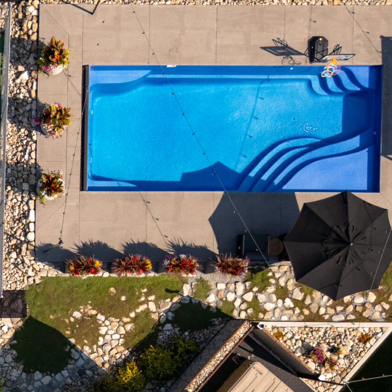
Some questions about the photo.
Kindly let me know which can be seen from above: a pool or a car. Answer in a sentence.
Looking from above, you can make out a pool.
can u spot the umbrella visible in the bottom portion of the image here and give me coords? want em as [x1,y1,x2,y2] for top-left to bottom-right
[284,191,392,301]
